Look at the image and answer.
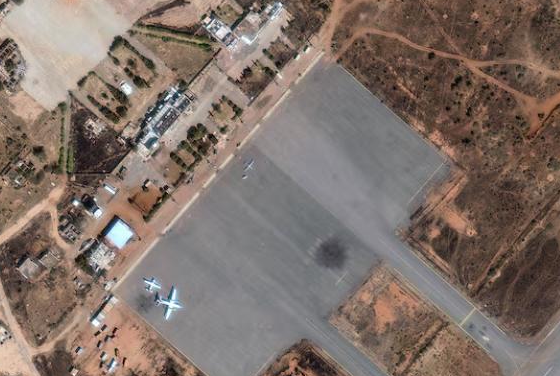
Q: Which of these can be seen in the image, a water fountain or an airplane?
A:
airplane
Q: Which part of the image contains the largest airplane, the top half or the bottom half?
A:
bottom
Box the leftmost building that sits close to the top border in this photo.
[200,16,238,48]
